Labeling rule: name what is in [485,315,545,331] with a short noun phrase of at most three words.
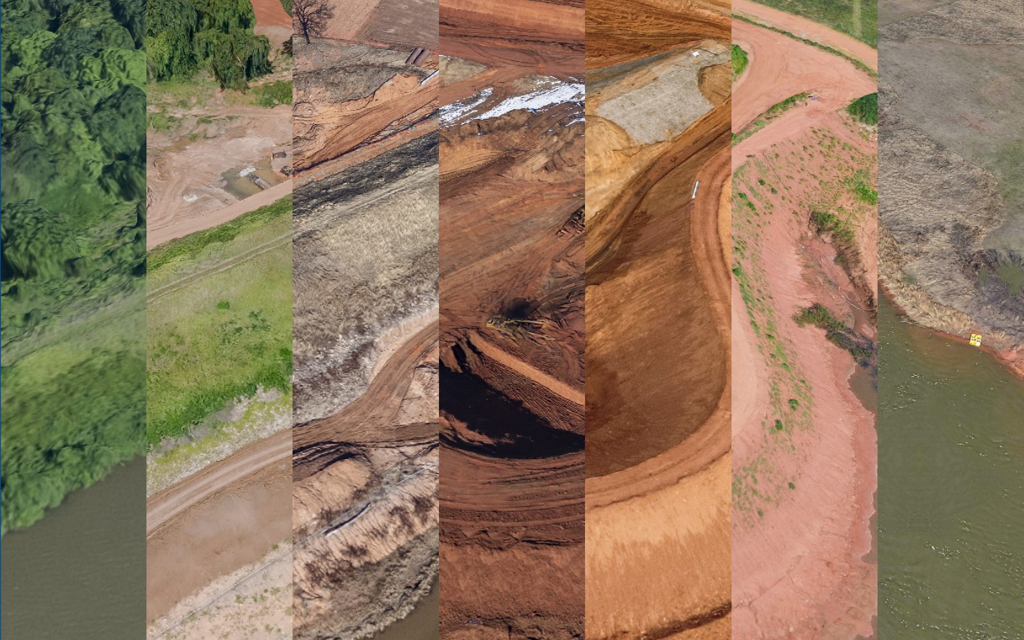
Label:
work vehicle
